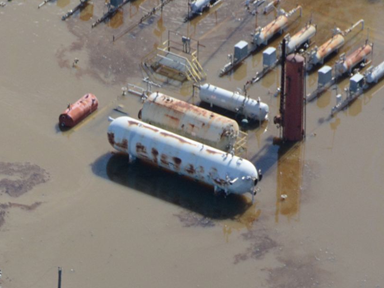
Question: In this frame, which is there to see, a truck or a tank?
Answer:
tank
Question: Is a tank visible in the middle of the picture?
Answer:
Yes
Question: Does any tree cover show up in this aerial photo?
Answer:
No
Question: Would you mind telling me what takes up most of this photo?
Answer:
water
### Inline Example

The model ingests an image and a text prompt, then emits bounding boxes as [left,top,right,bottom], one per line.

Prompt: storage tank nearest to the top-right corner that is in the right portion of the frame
[194,83,270,126]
